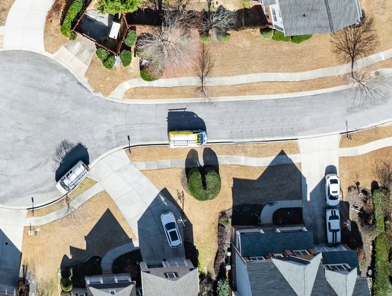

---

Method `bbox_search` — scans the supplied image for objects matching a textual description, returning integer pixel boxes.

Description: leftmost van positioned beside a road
[54,158,93,195]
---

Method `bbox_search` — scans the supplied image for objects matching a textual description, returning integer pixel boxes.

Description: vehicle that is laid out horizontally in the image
[167,128,208,148]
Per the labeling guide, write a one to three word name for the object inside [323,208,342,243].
car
